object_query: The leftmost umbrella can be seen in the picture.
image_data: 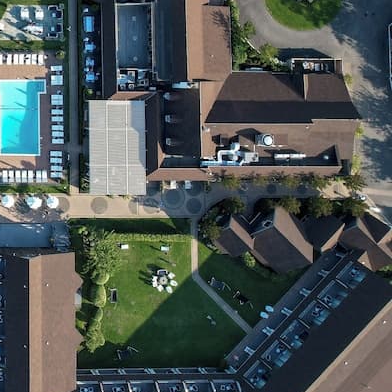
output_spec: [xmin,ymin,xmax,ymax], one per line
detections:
[0,195,14,208]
